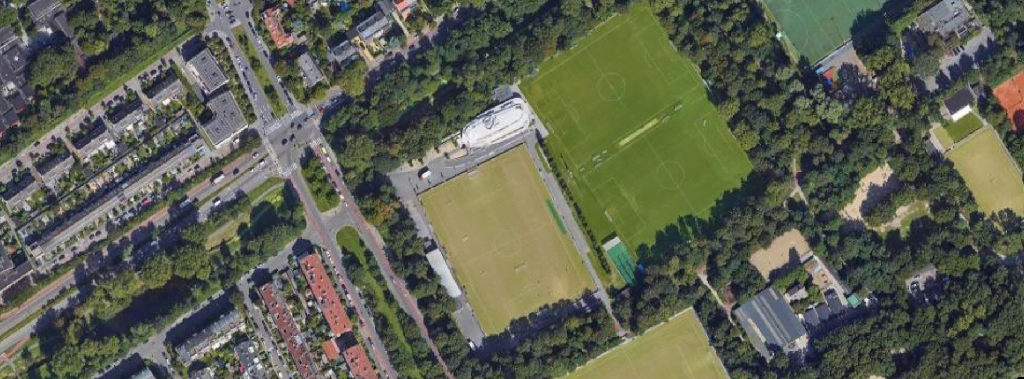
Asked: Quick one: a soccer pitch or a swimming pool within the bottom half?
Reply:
soccer pitch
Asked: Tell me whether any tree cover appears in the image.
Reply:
Yes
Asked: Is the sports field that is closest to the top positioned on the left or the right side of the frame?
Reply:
right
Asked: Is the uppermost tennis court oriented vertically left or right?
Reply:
right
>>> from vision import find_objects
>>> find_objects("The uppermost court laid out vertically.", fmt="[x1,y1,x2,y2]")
[993,68,1024,136]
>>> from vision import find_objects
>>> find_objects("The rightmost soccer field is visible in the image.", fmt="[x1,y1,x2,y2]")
[949,128,1024,219]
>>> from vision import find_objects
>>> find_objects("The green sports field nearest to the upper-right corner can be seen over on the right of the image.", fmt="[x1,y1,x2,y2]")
[771,0,914,66]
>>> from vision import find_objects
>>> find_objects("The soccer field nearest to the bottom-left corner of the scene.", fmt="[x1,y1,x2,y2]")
[421,146,598,335]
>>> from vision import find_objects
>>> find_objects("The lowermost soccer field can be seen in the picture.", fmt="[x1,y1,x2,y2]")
[565,308,728,379]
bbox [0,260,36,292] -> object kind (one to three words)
building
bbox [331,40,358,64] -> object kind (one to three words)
house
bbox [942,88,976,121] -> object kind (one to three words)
building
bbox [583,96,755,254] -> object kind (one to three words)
soccer field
